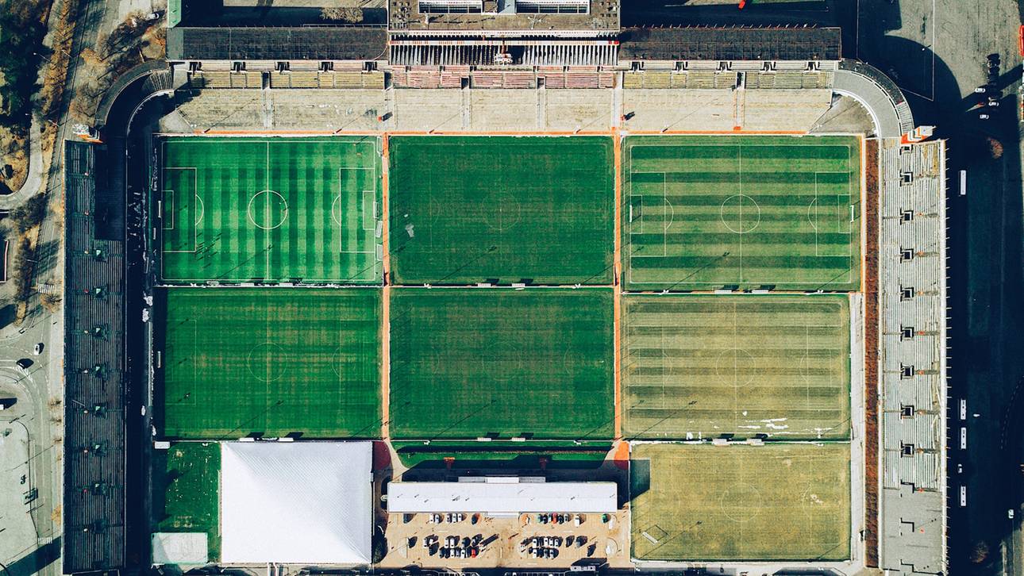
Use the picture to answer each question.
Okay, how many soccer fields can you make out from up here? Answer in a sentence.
The count of soccer fields comes to 7.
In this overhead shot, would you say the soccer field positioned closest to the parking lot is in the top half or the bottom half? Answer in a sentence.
The soccer field positioned closest to the parking lot is in the bottom half of the image.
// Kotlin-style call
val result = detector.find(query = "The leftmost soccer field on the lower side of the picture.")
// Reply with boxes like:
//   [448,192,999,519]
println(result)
[152,287,382,439]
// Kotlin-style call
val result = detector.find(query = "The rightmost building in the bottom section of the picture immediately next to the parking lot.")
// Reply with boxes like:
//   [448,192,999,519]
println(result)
[382,473,617,517]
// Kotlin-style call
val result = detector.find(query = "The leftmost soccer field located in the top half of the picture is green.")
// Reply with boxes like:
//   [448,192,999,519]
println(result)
[157,136,382,285]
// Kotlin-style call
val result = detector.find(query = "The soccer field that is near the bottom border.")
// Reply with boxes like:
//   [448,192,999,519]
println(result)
[632,442,851,561]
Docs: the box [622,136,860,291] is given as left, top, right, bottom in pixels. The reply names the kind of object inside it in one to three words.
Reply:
soccer field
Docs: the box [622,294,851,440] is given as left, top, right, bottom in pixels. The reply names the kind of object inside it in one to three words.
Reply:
soccer field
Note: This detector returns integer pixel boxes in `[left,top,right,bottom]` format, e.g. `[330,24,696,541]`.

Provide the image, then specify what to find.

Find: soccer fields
[632,442,851,561]
[622,136,860,291]
[390,136,615,285]
[390,287,615,439]
[622,294,851,440]
[157,136,382,285]
[152,287,382,439]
